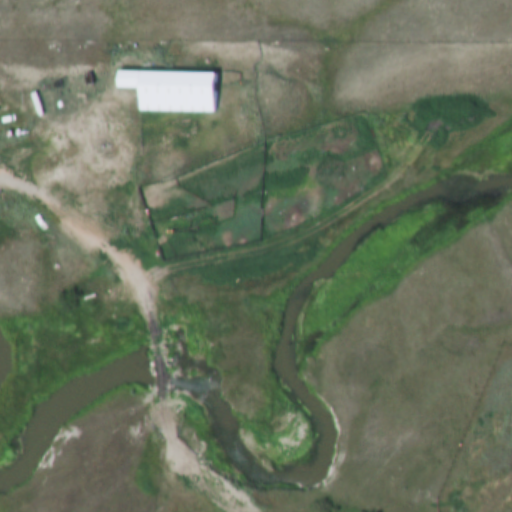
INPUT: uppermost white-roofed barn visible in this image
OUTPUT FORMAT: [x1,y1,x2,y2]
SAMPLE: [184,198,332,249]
[118,70,218,113]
